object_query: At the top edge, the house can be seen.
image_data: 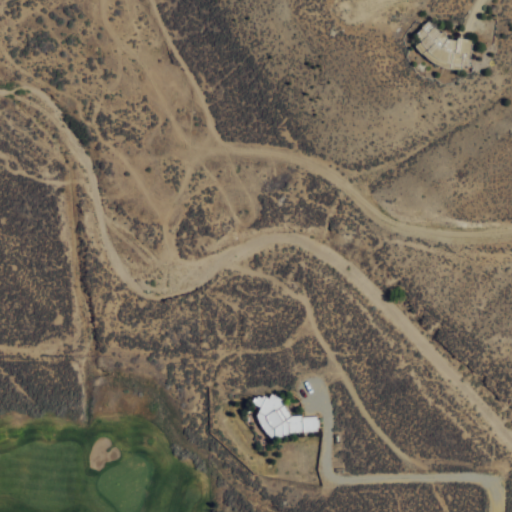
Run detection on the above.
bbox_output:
[416,21,474,69]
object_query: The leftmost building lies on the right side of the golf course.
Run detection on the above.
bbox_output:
[253,394,320,438]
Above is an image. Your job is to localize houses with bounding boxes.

[253,394,320,438]
[416,21,474,69]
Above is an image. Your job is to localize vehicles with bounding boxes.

[300,388,306,398]
[305,382,314,394]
